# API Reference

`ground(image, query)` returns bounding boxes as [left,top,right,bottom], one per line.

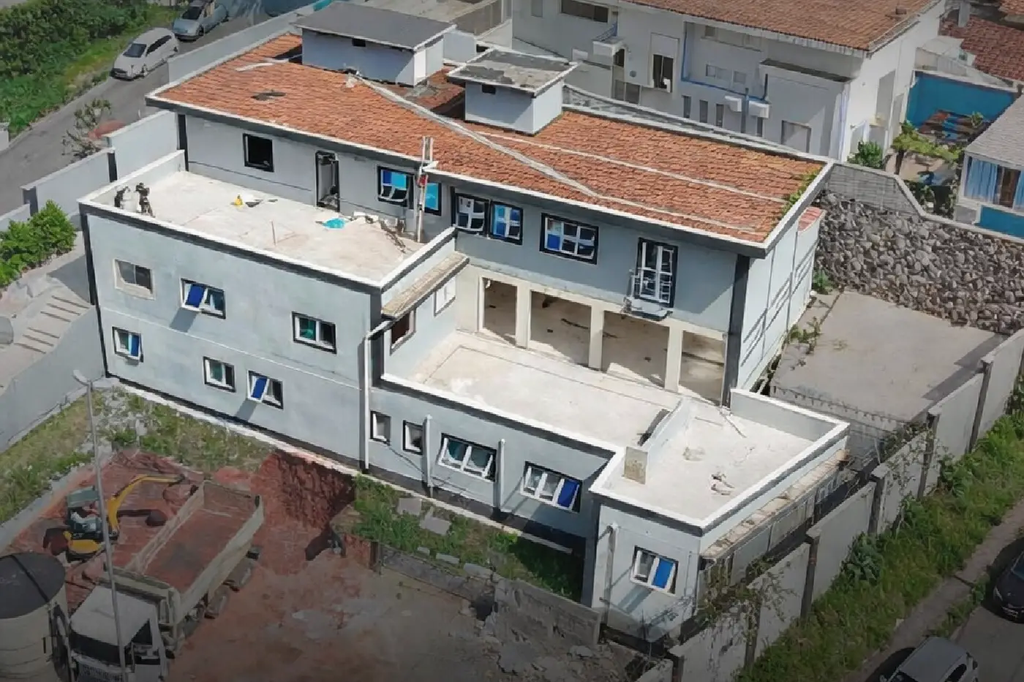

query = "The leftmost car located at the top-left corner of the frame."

[105,26,180,84]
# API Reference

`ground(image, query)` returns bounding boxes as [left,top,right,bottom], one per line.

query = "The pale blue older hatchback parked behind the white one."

[166,0,234,44]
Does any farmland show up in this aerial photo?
No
